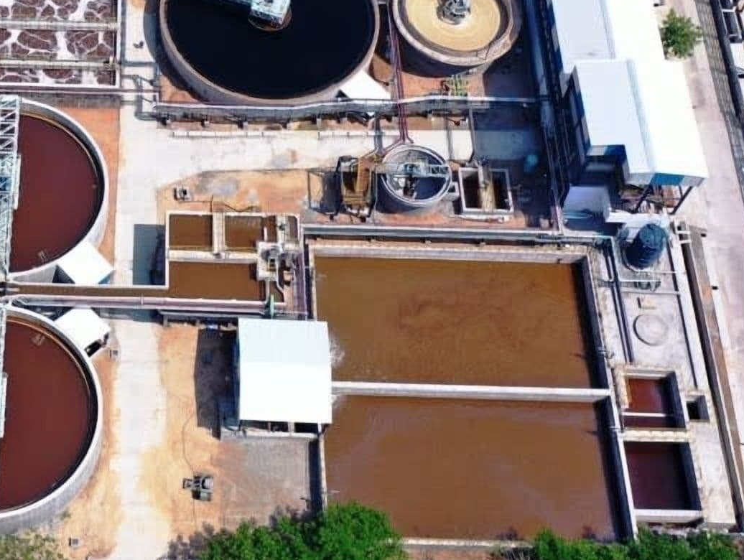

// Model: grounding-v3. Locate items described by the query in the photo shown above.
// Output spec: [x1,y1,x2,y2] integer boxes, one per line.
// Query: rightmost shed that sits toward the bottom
[236,320,333,451]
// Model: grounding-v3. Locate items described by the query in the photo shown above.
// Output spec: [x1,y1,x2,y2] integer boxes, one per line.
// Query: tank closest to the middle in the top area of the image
[374,145,462,221]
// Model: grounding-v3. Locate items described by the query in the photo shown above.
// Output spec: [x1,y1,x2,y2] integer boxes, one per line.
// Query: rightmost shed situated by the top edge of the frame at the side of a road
[529,0,707,222]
